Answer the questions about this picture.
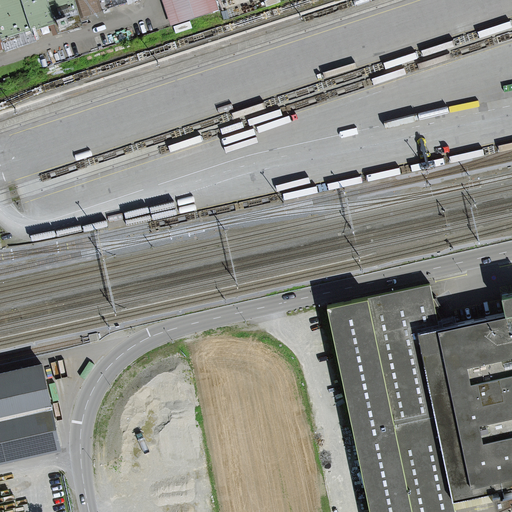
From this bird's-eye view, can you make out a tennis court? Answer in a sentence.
No, the frame has no tennis court in it.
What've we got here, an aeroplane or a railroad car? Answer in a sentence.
I can see a railroad car in this picture.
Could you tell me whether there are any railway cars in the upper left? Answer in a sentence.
Yes, a railway car shows up in the upper left.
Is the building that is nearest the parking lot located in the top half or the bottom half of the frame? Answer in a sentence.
It is in the bottom half that the building that is nearest the parking lot appears.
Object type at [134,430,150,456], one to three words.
vehicle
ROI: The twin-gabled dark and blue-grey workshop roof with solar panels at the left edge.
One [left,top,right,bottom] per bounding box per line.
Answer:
[0,360,61,462]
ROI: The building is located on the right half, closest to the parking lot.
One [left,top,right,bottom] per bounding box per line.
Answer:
[327,284,454,512]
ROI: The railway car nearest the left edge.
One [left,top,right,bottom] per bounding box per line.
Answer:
[0,88,40,108]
